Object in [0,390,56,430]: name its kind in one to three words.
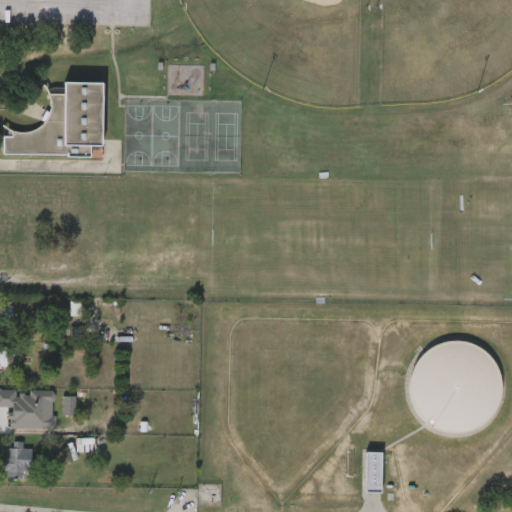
house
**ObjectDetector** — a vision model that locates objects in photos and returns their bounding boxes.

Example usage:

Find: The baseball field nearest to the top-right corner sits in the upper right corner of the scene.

[382,0,512,106]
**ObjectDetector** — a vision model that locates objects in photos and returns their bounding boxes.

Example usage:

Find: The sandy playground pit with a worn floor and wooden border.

[168,65,204,96]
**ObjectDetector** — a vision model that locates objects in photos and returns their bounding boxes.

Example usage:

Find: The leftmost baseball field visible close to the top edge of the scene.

[180,0,360,108]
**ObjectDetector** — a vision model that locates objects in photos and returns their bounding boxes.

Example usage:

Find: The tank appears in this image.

[405,338,504,438]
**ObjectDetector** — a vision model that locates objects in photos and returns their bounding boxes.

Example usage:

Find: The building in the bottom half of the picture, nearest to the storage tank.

[366,452,384,493]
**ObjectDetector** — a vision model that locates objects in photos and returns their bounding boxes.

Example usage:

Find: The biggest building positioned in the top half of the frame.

[4,82,104,157]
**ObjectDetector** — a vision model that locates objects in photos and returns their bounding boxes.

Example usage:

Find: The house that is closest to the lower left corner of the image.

[6,442,33,480]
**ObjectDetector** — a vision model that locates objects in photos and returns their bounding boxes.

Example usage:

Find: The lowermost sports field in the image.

[230,320,379,498]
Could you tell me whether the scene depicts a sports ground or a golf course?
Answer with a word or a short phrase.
sports ground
